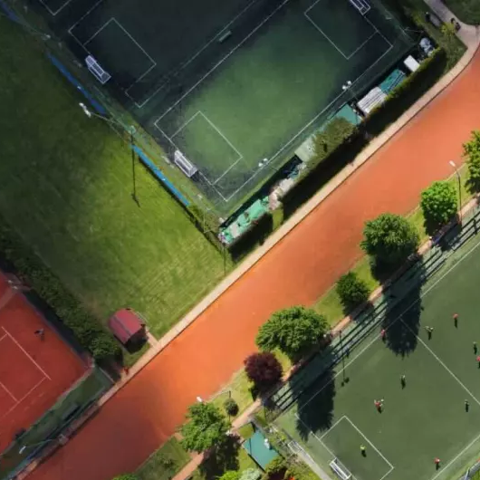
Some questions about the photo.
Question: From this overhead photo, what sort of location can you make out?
sports ground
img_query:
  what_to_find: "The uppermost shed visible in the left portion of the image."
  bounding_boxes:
[109,308,154,345]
